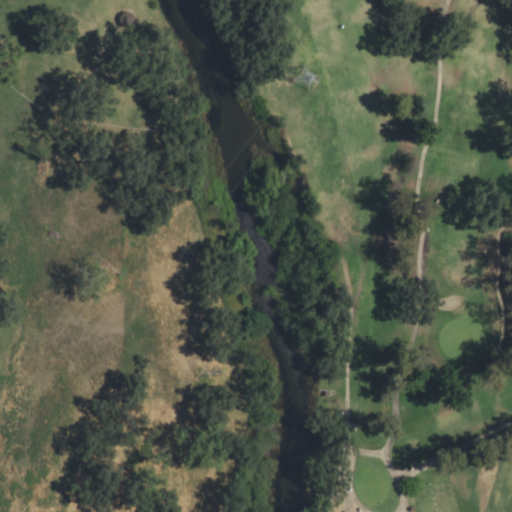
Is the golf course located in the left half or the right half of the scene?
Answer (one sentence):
The golf course is on the right side of the image.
